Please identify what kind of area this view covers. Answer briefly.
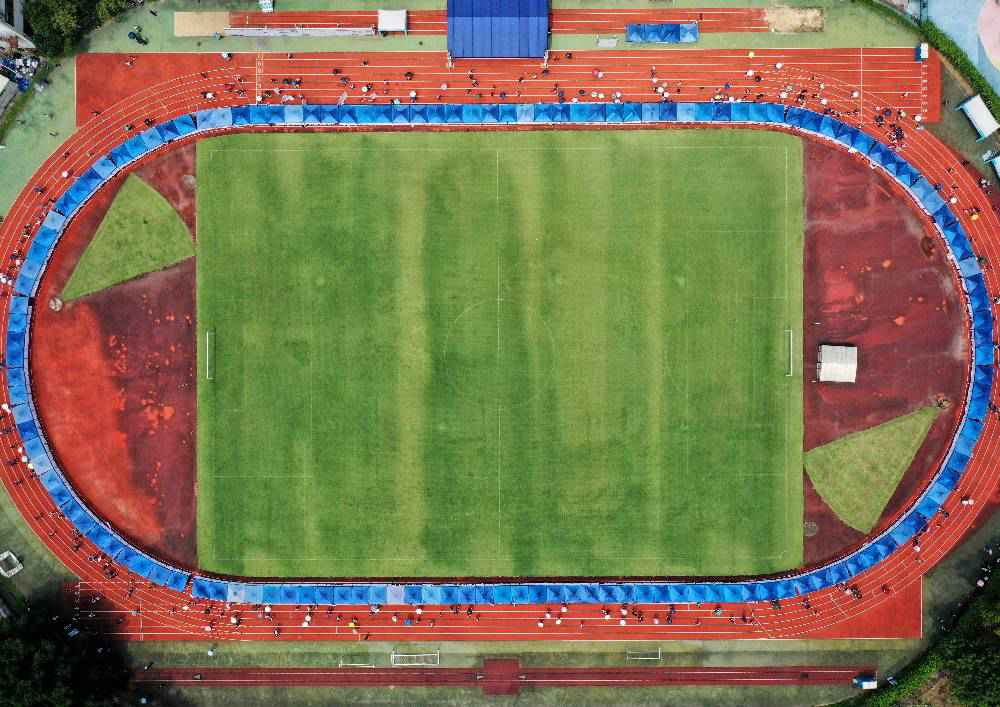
sports ground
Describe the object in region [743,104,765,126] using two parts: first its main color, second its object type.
blue tent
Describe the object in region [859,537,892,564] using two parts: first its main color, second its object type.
blue tent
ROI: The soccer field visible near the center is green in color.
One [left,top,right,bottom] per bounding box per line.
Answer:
[195,132,804,577]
